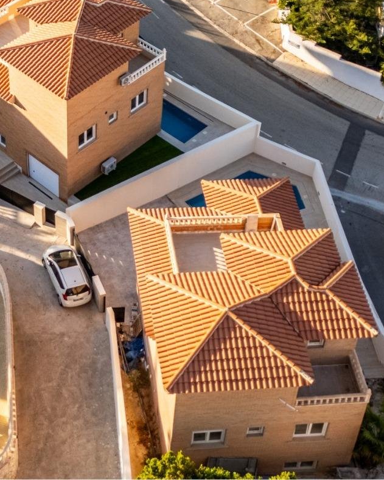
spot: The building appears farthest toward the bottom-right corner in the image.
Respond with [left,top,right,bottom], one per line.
[126,173,378,477]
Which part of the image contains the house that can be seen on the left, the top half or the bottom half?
top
